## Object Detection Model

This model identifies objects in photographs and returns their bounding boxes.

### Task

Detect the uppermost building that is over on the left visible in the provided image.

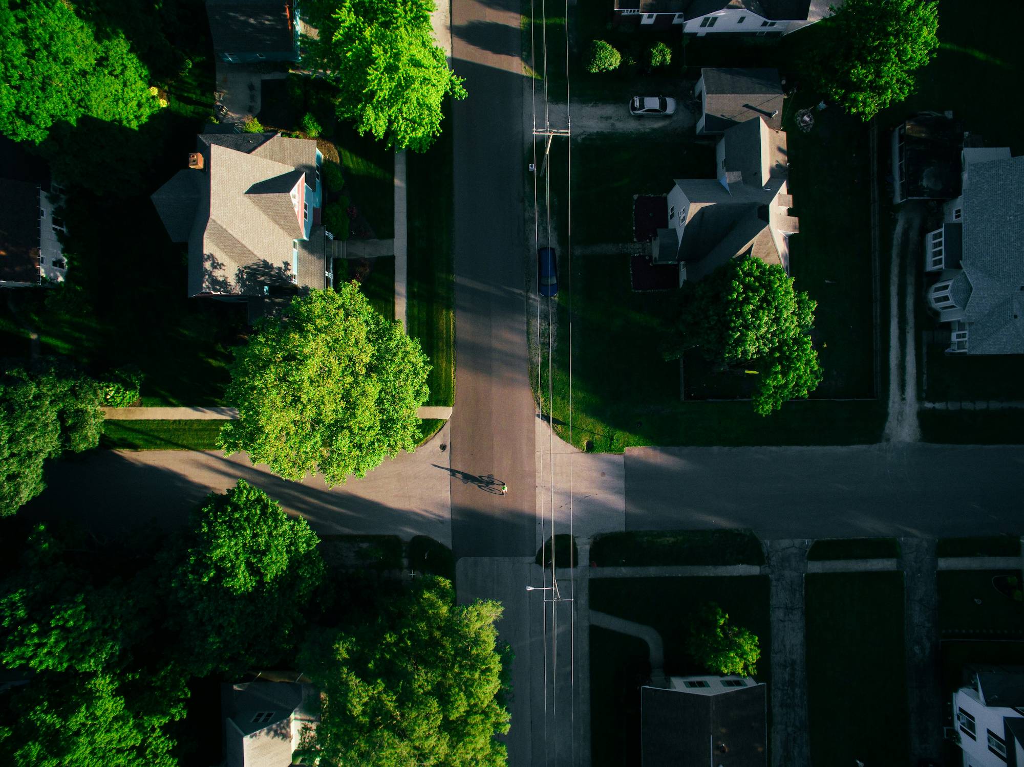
[212,0,297,61]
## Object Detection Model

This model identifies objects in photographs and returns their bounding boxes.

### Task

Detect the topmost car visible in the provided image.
[630,93,677,118]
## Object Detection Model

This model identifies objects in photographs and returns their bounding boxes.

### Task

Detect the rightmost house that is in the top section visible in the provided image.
[928,147,1024,354]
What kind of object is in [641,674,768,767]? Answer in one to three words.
house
